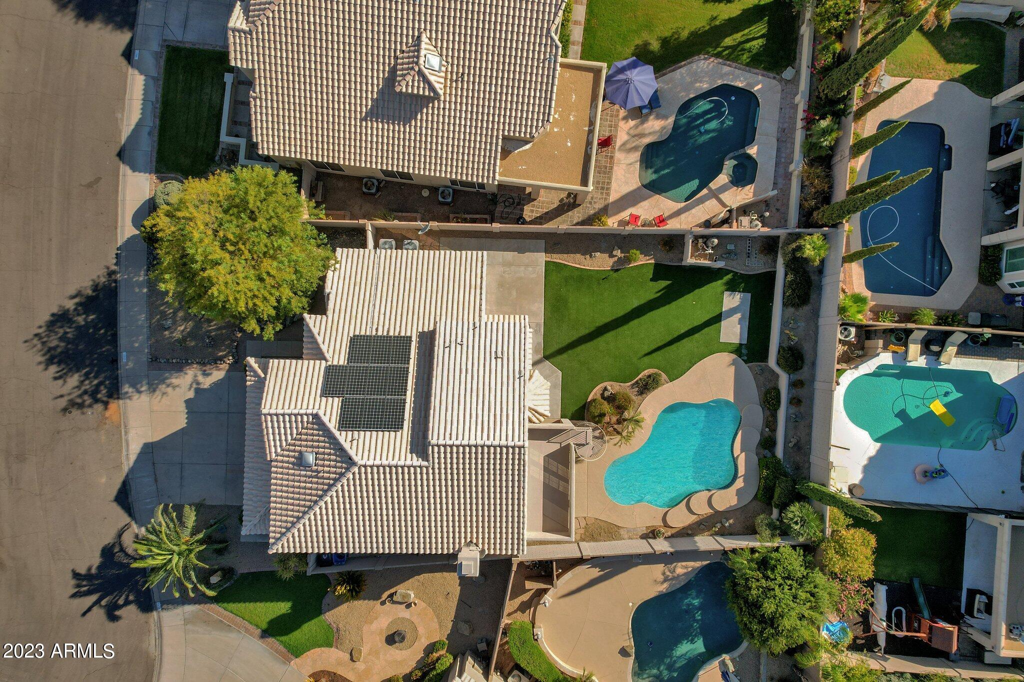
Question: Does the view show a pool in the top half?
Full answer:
Yes, a pool can be seen in the top half.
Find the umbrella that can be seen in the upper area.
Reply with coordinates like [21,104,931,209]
[604,57,658,109]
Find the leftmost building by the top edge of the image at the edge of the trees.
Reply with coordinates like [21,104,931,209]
[228,0,606,207]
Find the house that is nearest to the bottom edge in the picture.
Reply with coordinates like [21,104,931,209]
[455,637,490,682]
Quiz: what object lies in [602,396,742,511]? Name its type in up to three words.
swimming pool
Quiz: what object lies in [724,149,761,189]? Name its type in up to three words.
swimming pool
